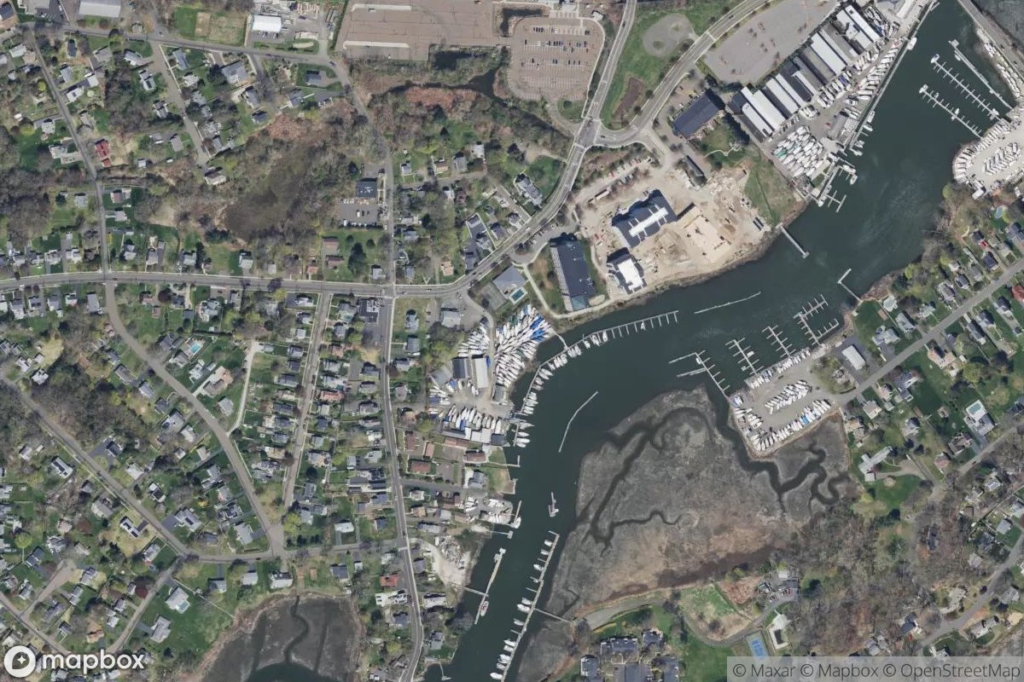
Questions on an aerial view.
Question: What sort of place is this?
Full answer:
What you see here is a residential area.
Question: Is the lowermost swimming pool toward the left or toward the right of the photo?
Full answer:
It is on the right.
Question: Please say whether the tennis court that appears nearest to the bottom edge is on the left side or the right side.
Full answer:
You can find the tennis court that appears nearest to the bottom edge on the right side of the picture.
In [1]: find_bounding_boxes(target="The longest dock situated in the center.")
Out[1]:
[520,310,679,412]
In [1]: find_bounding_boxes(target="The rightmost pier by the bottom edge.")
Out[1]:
[502,530,575,682]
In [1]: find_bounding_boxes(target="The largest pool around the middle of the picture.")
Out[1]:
[509,286,529,304]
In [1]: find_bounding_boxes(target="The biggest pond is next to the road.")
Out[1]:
[366,52,572,143]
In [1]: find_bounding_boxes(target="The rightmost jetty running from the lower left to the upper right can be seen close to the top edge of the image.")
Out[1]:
[852,0,945,147]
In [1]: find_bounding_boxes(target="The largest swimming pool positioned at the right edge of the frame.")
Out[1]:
[965,399,988,422]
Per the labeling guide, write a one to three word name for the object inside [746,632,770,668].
tennis court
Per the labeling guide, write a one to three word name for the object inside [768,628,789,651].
swimming pool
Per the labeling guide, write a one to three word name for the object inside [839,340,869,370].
building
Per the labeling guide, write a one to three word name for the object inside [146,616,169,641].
house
